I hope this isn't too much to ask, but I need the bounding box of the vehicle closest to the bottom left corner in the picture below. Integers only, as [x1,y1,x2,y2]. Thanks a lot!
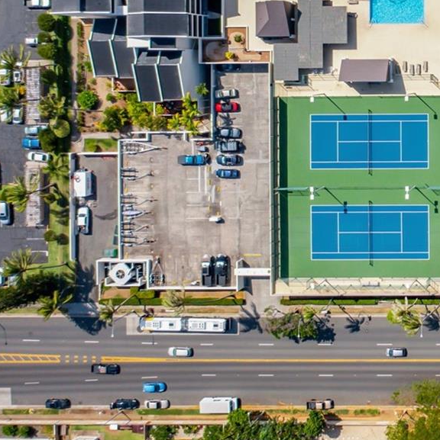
[45,398,72,411]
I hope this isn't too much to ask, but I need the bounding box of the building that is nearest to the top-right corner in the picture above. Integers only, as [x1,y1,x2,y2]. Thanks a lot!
[339,60,391,82]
